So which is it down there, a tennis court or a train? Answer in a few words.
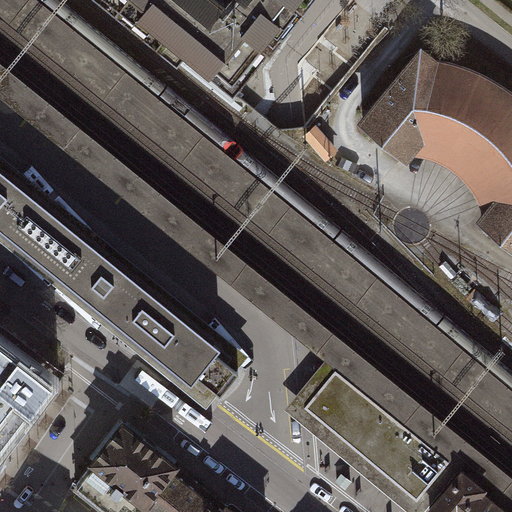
train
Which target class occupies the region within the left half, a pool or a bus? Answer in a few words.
bus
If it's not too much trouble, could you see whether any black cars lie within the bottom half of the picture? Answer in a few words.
Yes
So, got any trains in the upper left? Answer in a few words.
Yes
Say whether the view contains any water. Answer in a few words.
No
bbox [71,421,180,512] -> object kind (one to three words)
house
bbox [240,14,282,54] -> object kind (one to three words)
shed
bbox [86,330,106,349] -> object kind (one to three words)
car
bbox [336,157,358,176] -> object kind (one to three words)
vehicle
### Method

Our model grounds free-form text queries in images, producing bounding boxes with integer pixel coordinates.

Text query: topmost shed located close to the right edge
[356,50,512,258]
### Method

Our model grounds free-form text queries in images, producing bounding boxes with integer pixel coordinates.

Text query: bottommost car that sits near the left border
[13,486,34,509]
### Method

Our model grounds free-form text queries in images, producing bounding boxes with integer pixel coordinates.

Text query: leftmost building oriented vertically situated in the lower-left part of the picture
[0,334,60,470]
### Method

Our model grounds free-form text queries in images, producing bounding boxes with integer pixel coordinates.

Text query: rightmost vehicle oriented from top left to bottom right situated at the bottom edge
[310,483,332,504]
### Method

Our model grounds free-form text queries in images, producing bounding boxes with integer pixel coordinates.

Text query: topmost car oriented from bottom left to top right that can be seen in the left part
[48,420,65,441]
